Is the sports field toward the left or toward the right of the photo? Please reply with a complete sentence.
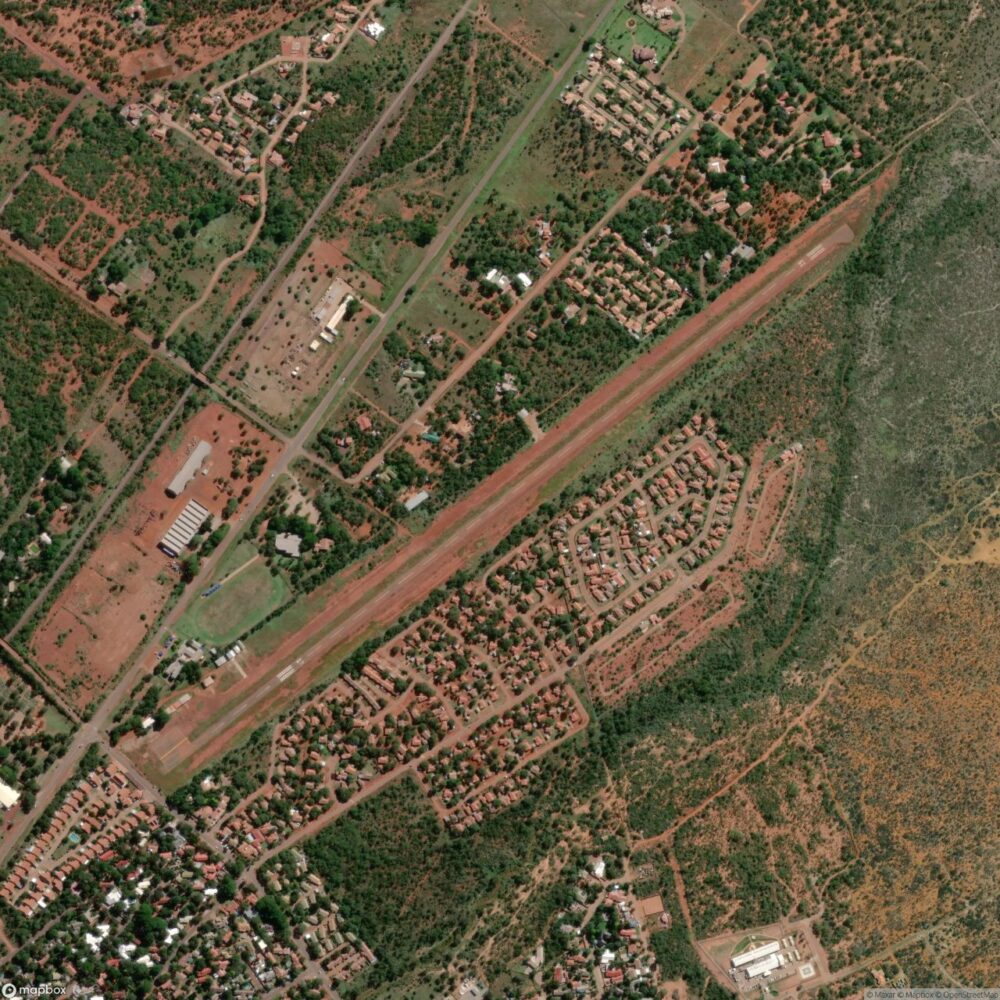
The sports field sits on the left side.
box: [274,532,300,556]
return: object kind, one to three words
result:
building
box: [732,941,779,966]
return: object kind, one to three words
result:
building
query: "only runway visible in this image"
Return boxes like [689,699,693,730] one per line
[148,212,854,772]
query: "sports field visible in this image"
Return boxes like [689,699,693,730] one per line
[188,558,284,648]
